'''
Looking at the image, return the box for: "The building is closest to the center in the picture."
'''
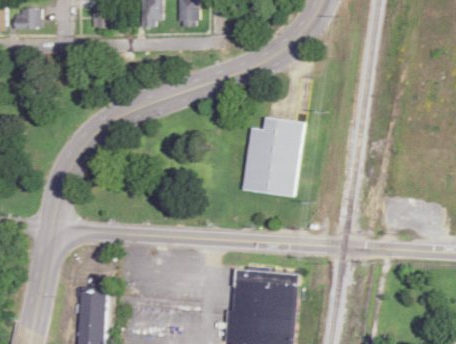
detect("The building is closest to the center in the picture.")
[244,117,308,198]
